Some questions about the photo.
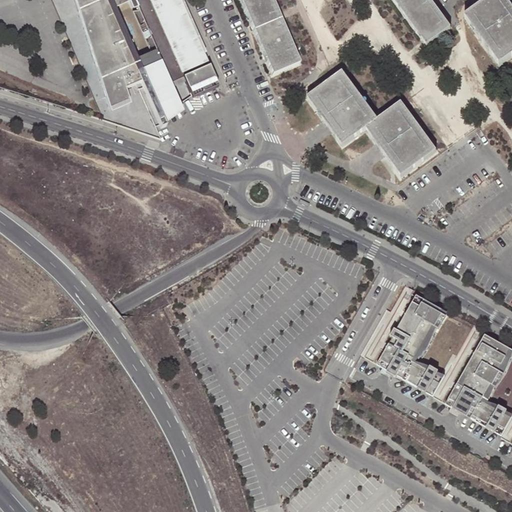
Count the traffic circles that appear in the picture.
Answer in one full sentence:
The picture shows just 1 traffic circle.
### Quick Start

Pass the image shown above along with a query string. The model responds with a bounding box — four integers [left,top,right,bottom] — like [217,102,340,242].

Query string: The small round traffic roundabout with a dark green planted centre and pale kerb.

[228,164,290,222]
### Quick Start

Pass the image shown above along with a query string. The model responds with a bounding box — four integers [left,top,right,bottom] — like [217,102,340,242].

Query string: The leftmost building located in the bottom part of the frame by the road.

[376,294,448,399]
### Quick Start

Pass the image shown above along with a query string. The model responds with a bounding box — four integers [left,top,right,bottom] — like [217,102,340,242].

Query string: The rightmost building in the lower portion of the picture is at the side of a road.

[446,333,512,447]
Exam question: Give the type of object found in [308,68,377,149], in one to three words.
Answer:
building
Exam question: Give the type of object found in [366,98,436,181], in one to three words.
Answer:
building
